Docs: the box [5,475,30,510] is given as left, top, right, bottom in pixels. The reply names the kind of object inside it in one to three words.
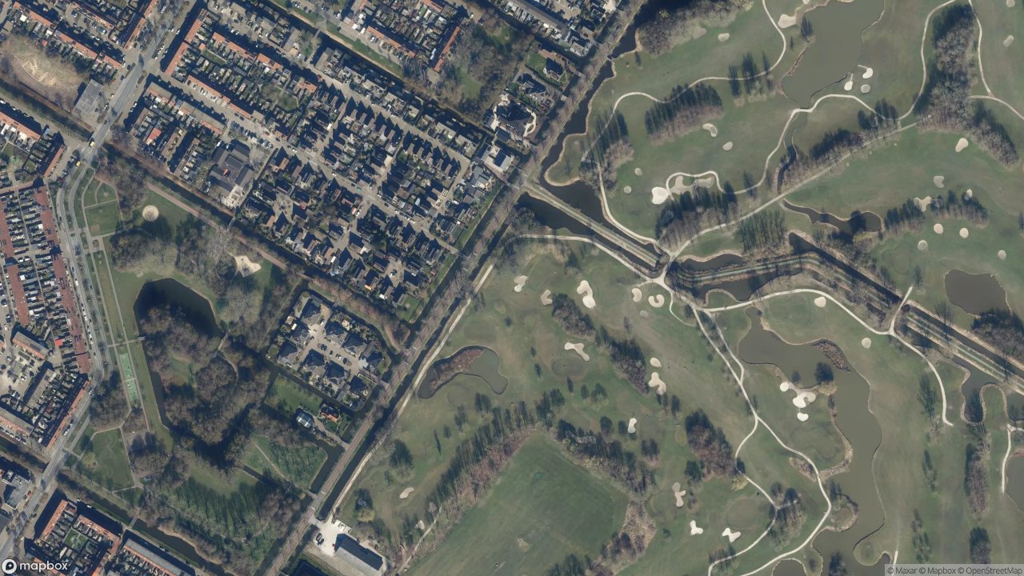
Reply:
building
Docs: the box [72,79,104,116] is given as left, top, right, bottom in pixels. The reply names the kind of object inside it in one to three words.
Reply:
building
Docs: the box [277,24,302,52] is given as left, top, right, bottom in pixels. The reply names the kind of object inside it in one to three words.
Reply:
house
